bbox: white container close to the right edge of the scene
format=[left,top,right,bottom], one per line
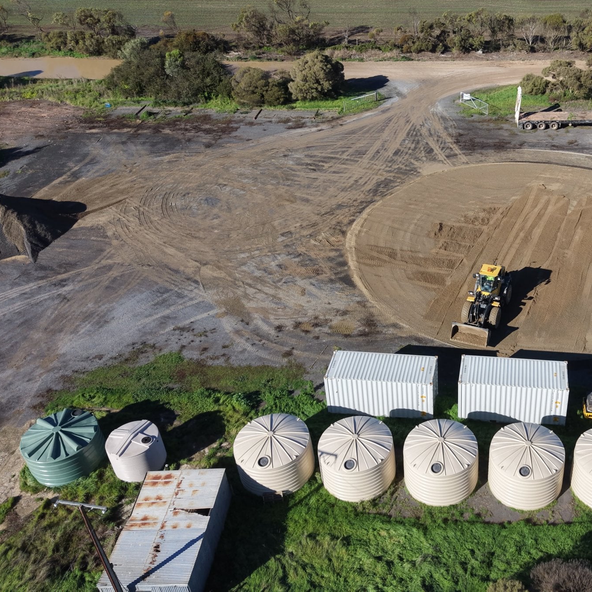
[458,355,569,425]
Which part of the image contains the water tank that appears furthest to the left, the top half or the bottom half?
bottom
